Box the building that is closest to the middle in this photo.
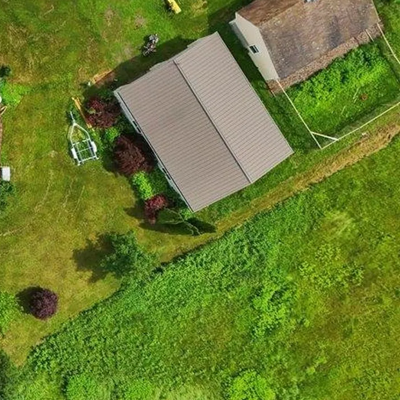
[113,30,293,214]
